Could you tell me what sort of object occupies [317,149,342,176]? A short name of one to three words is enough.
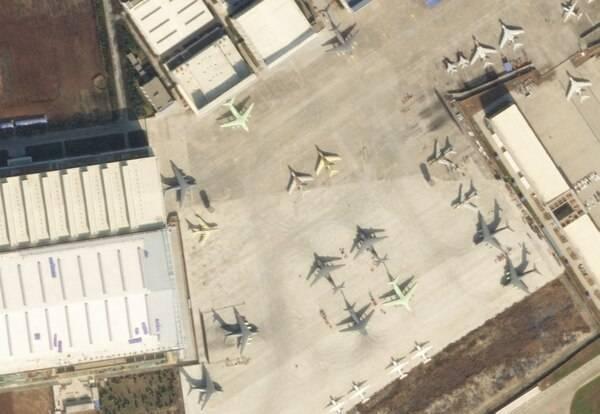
airplane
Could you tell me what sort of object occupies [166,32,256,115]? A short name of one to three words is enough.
hangar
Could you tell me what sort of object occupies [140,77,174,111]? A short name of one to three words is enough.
building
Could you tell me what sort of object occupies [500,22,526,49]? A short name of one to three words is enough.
airplane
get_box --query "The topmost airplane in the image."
[563,2,580,23]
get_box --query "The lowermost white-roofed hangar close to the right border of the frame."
[564,214,600,285]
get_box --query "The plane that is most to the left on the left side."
[161,166,196,206]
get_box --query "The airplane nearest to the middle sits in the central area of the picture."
[288,168,315,196]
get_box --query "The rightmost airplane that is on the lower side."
[501,255,536,292]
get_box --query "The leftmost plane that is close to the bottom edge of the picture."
[188,369,223,410]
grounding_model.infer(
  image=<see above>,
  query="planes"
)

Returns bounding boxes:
[427,139,455,166]
[317,149,342,176]
[475,217,510,253]
[411,344,432,361]
[389,362,409,378]
[327,399,347,414]
[353,231,388,264]
[223,314,260,354]
[161,166,196,206]
[451,183,480,210]
[310,258,345,292]
[339,304,375,338]
[325,25,360,58]
[220,99,255,132]
[471,39,498,67]
[383,278,418,310]
[563,2,580,23]
[188,369,223,410]
[460,56,470,70]
[500,22,526,49]
[501,255,536,292]
[567,74,592,101]
[349,385,369,402]
[288,168,315,196]
[192,217,221,245]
